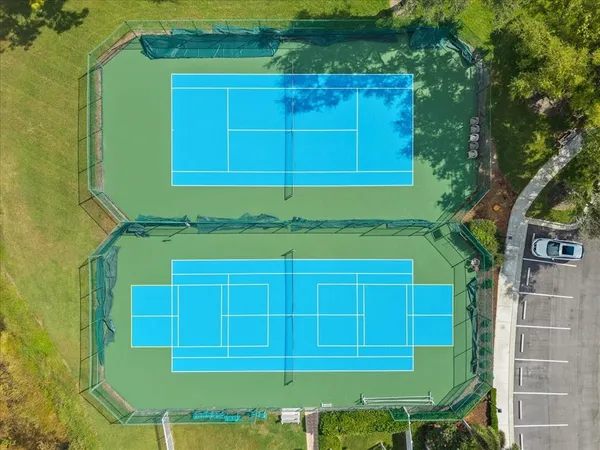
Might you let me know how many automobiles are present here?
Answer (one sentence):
Just 1 automobile appears in this view.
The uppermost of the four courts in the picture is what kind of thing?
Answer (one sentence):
The uppermost of the four courts in the image is a tennis court.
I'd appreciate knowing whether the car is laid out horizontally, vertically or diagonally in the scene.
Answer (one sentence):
The car is oriented horizontally.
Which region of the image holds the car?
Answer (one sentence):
Look in the right portion of the view to spot the car.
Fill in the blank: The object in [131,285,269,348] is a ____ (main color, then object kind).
blue sports court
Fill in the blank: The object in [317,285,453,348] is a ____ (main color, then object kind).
blue sports court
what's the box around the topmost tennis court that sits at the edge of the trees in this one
[104,36,477,223]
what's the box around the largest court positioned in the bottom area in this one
[105,223,476,408]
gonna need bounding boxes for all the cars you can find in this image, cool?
[531,237,584,261]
